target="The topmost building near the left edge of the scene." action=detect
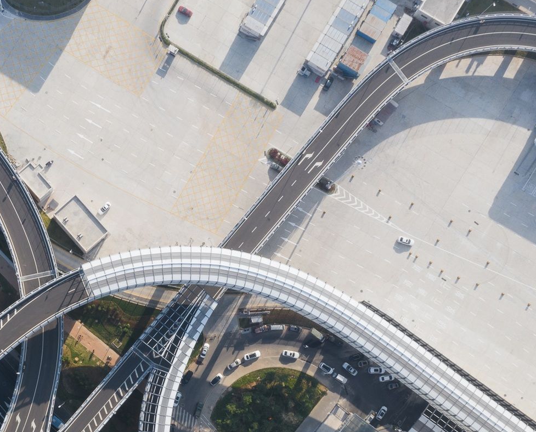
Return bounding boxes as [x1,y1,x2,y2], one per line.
[19,163,53,203]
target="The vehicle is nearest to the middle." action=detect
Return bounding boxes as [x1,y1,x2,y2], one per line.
[265,158,282,172]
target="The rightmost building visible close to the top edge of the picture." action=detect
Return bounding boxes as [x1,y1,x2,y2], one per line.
[411,0,461,33]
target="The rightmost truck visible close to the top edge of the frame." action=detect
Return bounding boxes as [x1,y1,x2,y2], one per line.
[392,6,415,42]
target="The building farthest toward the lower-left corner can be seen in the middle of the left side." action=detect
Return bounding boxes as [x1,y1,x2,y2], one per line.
[55,196,108,255]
